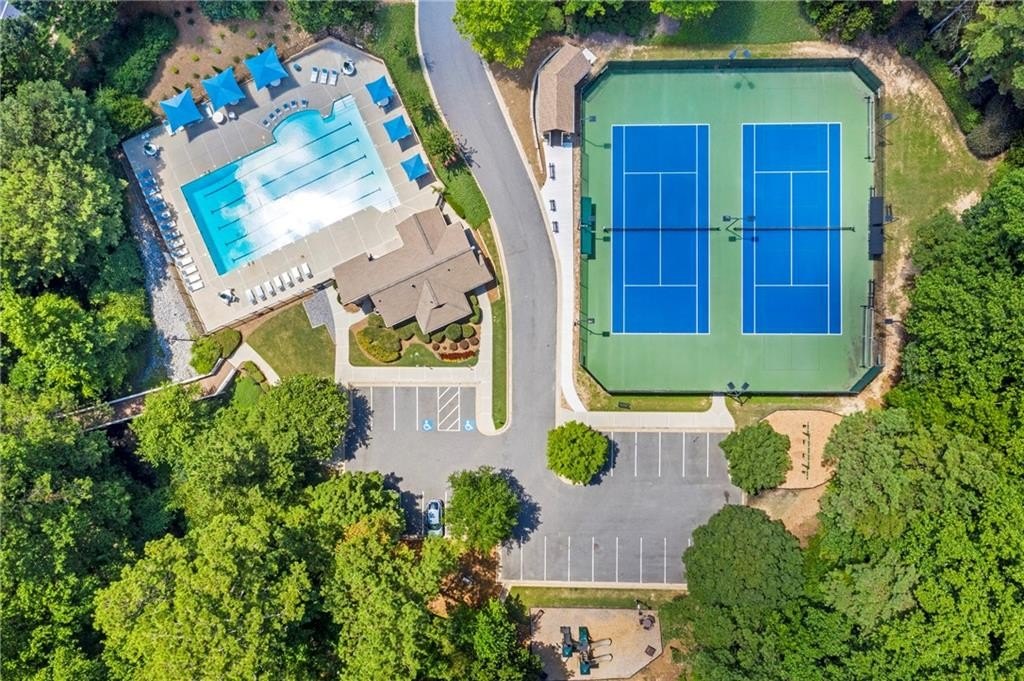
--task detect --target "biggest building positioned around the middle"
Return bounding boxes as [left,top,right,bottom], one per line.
[333,207,493,334]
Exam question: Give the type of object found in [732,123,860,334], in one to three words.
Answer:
tennis court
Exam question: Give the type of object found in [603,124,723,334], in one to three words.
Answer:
tennis court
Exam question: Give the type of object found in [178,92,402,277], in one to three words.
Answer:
swimming pool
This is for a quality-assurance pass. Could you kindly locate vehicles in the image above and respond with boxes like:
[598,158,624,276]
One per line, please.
[425,498,445,538]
